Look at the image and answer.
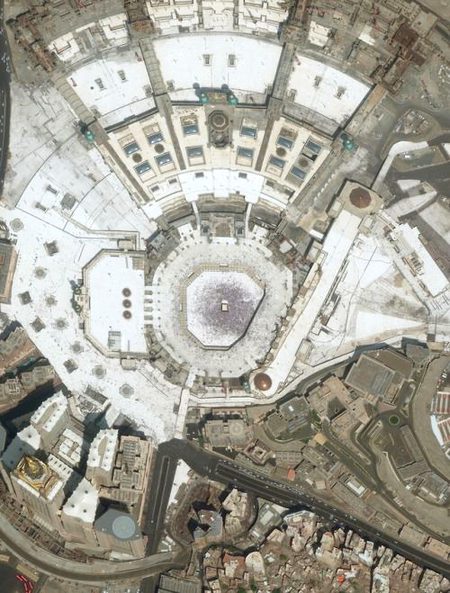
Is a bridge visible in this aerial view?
Yes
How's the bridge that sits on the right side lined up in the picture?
diagonally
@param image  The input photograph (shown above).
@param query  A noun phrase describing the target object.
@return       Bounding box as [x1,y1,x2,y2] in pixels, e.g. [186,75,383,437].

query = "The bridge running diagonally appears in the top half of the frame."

[370,139,433,189]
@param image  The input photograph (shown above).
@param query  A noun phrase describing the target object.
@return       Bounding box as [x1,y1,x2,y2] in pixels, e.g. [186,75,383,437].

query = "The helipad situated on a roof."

[112,516,136,540]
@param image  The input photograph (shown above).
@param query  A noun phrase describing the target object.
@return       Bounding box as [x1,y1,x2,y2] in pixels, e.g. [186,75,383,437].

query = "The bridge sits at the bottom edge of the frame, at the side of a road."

[0,511,189,572]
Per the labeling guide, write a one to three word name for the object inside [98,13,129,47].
building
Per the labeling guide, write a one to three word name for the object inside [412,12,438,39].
shed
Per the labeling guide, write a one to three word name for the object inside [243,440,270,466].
house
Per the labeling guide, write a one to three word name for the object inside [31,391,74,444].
building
